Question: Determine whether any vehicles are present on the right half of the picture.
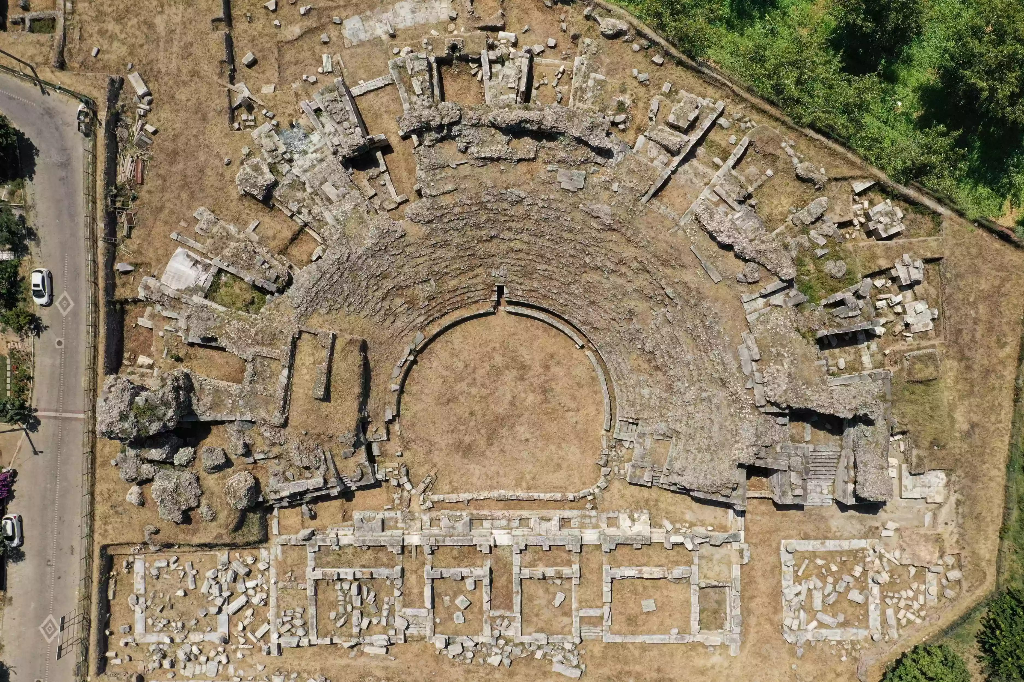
No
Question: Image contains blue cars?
No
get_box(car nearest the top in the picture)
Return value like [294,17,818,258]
[31,268,56,307]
